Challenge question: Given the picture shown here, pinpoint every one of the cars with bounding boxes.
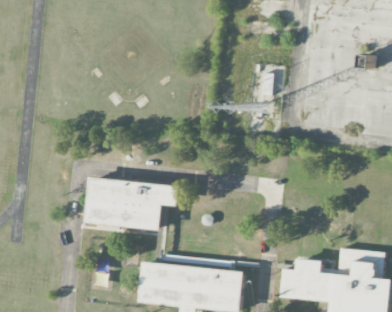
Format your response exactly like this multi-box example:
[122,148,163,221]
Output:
[261,241,266,252]
[146,161,158,166]
[72,201,78,213]
[61,232,68,244]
